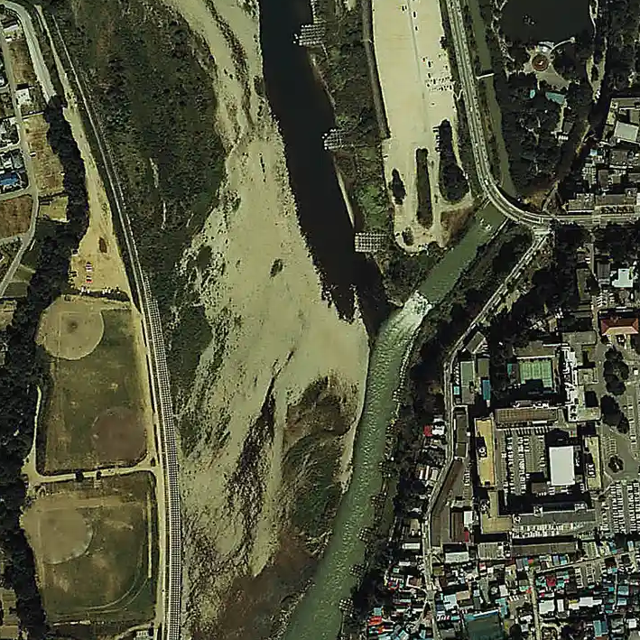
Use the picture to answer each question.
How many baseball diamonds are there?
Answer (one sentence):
The photo contains 2 baseball diamonds.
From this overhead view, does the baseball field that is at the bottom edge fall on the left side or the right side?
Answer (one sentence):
The baseball field that is at the bottom edge sits on the left side.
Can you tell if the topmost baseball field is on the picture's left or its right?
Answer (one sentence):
You can find the topmost baseball field on the left side of the picture.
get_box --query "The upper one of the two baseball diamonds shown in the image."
[36,295,147,471]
